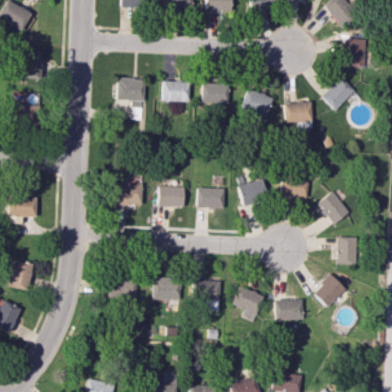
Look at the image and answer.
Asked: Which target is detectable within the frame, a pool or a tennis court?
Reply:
pool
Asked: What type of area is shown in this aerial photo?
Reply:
residential area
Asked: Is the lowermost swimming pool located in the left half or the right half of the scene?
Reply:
right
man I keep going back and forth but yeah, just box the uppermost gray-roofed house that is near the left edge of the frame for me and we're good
[0,0,32,30]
